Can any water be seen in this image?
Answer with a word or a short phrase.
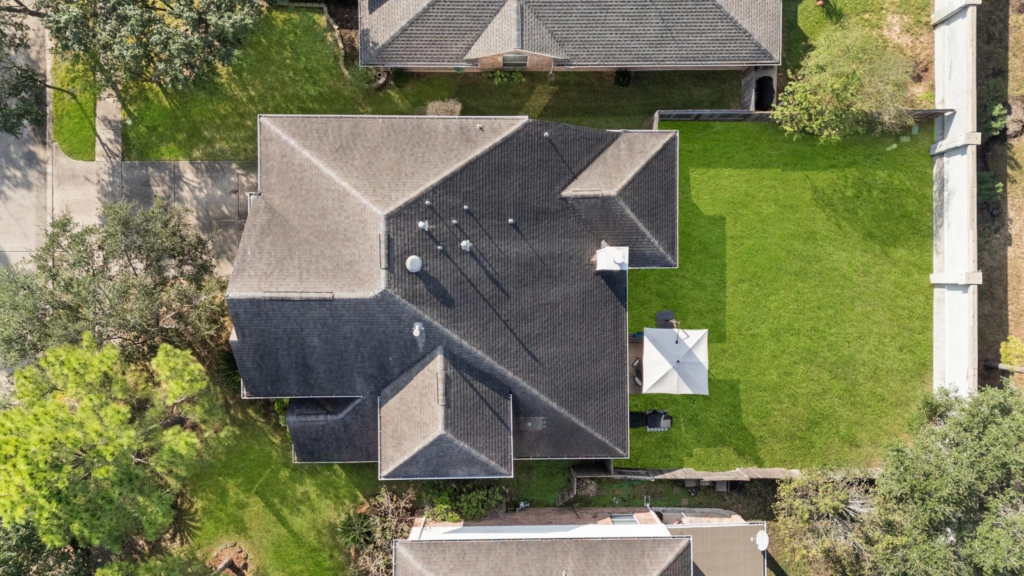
No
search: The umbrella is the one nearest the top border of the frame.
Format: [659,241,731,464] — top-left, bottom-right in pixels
[642,311,709,395]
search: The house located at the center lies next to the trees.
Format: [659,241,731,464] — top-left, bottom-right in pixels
[226,115,681,482]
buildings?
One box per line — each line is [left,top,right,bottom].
[357,0,784,78]
[391,502,695,576]
[226,115,681,482]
